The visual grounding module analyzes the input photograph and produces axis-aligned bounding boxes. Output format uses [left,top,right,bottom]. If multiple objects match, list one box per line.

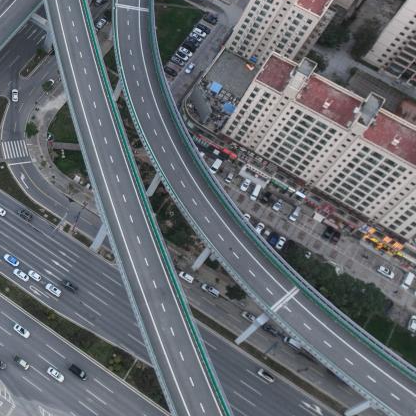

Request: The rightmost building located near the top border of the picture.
[362,0,416,82]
